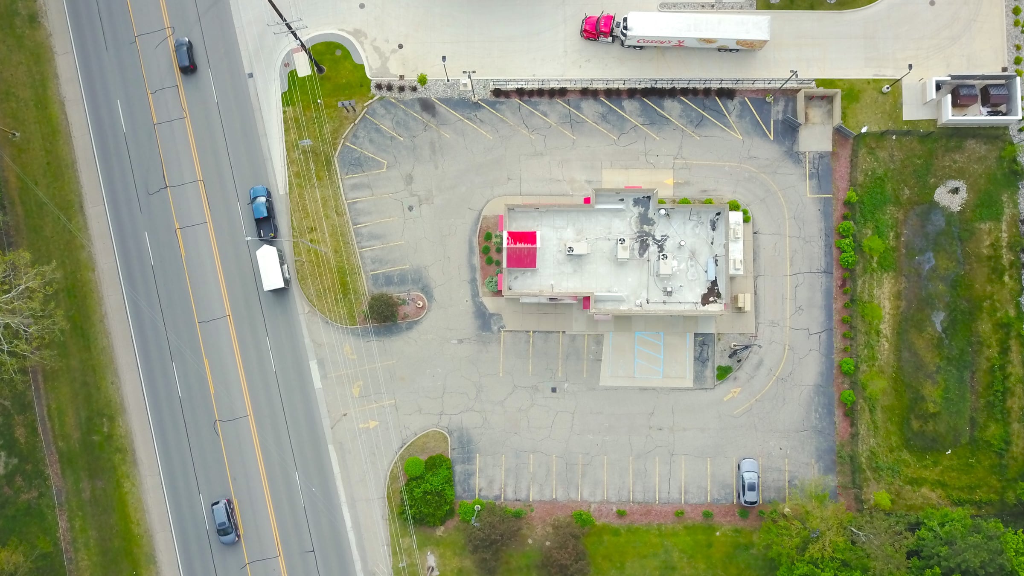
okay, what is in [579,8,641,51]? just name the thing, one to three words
vehicle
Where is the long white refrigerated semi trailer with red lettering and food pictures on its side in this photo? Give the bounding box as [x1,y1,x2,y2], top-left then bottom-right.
[617,11,770,55]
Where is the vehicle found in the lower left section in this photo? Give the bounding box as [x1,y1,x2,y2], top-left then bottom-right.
[211,495,239,545]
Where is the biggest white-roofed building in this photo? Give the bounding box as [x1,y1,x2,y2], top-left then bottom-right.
[498,187,729,319]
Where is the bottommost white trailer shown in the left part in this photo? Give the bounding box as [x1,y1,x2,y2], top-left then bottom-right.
[256,241,291,293]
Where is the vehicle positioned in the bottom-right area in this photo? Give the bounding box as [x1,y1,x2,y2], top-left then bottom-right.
[738,458,761,507]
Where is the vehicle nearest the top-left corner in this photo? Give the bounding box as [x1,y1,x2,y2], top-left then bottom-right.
[173,36,198,76]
